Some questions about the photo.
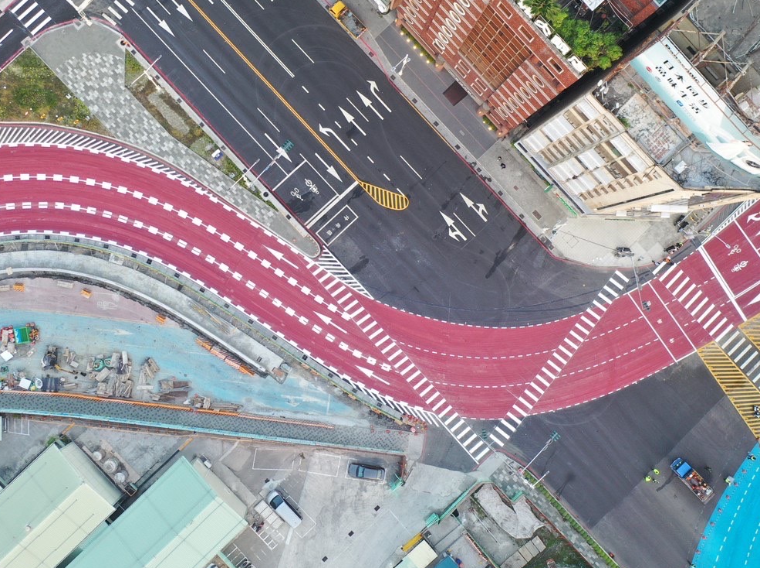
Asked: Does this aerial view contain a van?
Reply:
Yes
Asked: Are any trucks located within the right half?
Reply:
Yes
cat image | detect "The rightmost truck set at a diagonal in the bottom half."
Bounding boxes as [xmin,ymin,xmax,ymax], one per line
[675,458,716,504]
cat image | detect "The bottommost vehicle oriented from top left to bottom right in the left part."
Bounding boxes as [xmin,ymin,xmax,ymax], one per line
[267,490,300,531]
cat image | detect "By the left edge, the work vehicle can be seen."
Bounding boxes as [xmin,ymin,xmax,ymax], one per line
[38,350,76,377]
